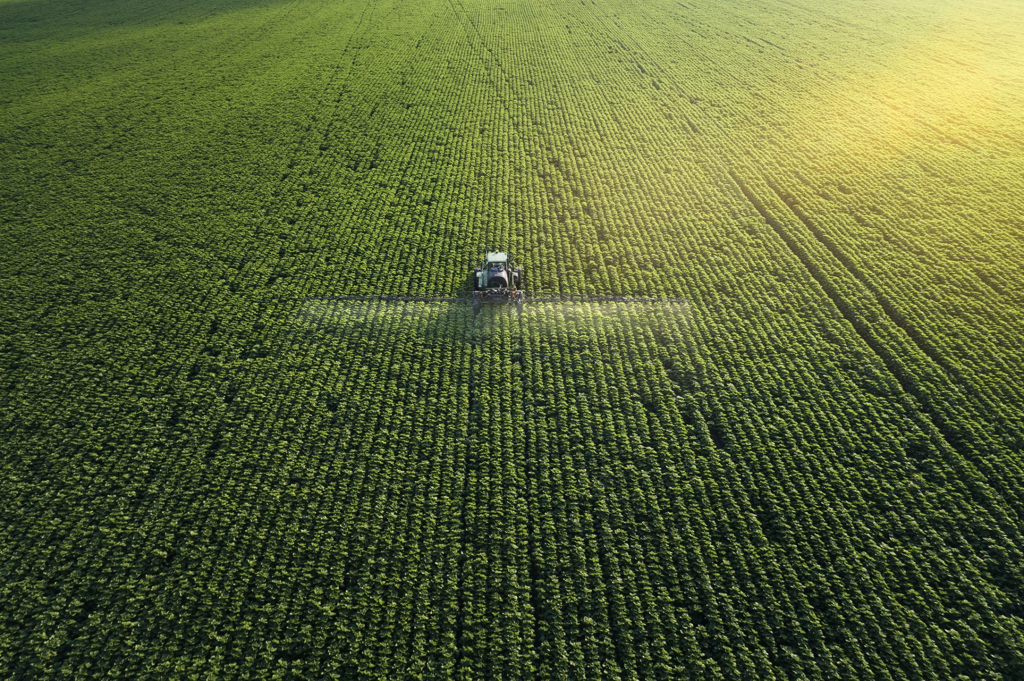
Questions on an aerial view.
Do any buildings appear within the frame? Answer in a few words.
No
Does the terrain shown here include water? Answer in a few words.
No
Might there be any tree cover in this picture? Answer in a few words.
No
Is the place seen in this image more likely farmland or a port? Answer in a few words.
farmland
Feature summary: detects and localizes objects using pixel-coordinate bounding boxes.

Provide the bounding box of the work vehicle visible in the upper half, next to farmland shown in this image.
[473,245,522,291]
